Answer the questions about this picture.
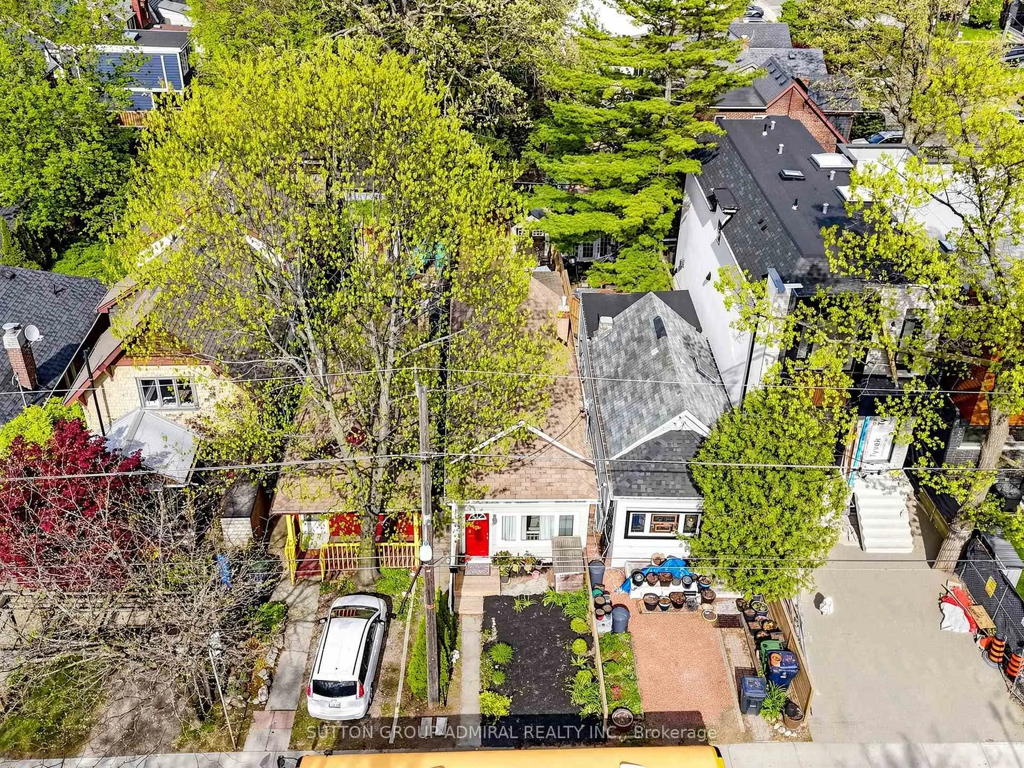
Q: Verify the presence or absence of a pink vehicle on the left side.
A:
No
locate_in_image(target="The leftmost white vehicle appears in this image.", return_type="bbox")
[309,597,390,714]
